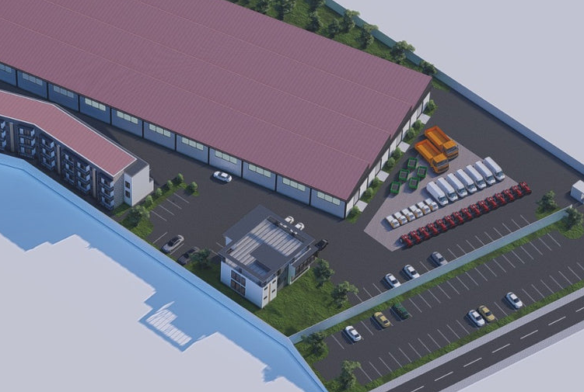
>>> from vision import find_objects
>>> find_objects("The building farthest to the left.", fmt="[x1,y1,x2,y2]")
[0,88,153,211]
